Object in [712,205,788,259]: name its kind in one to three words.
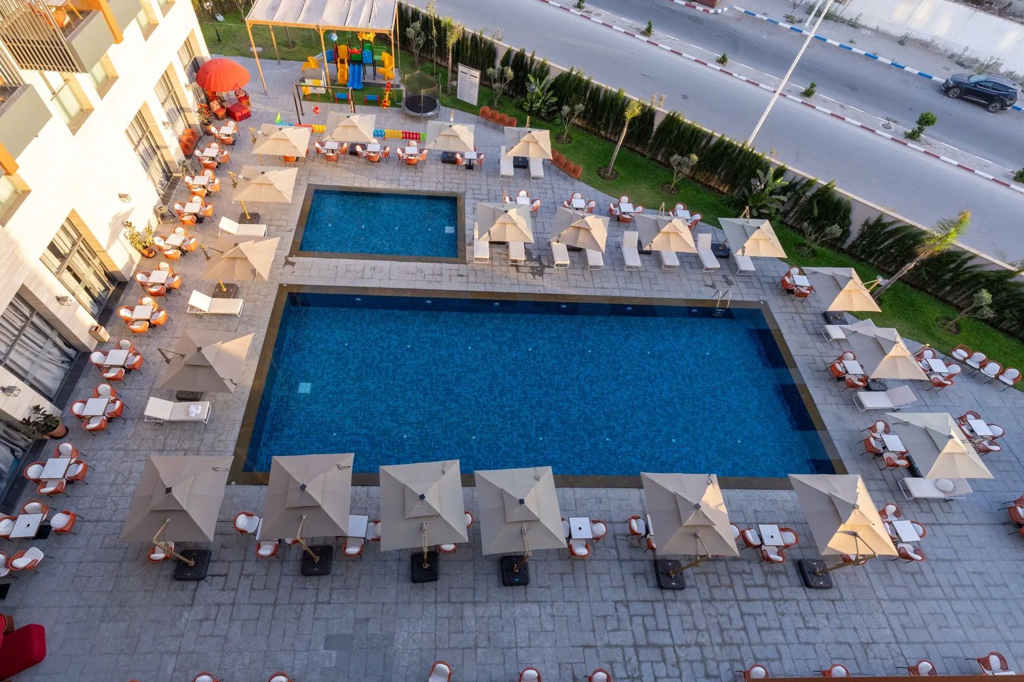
umbrella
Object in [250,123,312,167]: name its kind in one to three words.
umbrella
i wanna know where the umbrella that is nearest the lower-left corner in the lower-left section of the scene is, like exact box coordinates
[118,457,233,580]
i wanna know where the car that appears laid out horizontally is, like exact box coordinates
[944,72,1024,111]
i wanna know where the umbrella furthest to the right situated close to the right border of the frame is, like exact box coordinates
[888,413,993,480]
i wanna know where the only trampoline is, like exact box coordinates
[400,73,441,125]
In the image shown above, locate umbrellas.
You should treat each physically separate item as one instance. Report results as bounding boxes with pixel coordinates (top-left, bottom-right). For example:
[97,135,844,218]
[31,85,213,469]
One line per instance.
[381,462,470,582]
[199,235,279,300]
[633,202,698,253]
[504,116,553,168]
[426,110,475,162]
[476,191,535,245]
[229,166,296,223]
[712,205,788,259]
[800,267,882,325]
[839,327,929,389]
[888,413,993,480]
[322,101,376,154]
[156,329,253,402]
[790,476,898,588]
[250,123,312,167]
[118,457,233,580]
[549,199,610,255]
[641,472,740,589]
[194,62,256,108]
[258,455,354,577]
[475,467,569,586]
